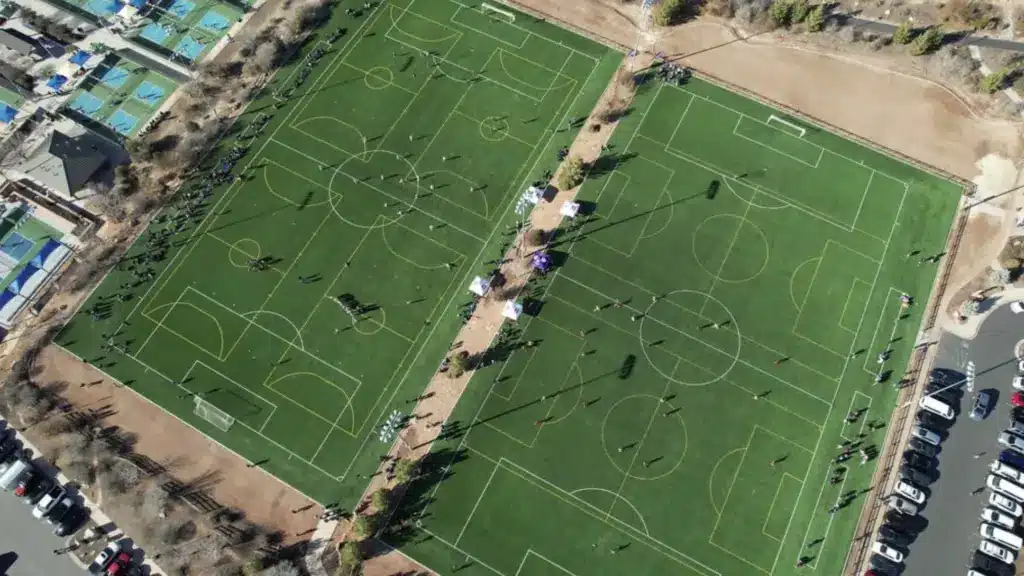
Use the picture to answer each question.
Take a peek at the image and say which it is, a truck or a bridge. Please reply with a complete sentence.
The one in the frame is a truck.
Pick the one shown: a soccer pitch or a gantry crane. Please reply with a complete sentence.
The one in the frame is a soccer pitch.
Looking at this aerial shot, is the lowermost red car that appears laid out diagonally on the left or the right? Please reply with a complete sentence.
The lowermost red car that appears laid out diagonally is on the left side of the image.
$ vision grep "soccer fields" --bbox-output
[375,57,965,576]
[52,0,627,515]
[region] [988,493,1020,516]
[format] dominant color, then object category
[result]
white car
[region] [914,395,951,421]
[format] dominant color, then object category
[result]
white vehicle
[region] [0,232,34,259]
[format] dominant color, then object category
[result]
blue sports court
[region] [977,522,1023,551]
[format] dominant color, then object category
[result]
white van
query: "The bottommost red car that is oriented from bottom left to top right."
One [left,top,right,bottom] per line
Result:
[105,551,133,576]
